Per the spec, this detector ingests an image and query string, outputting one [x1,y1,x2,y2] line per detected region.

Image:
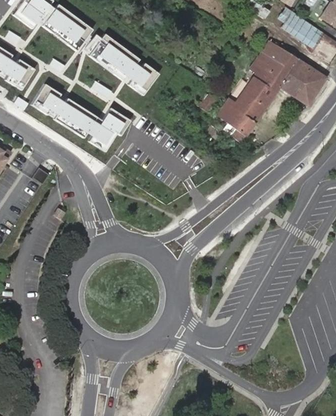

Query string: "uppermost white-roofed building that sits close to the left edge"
[12,0,94,56]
